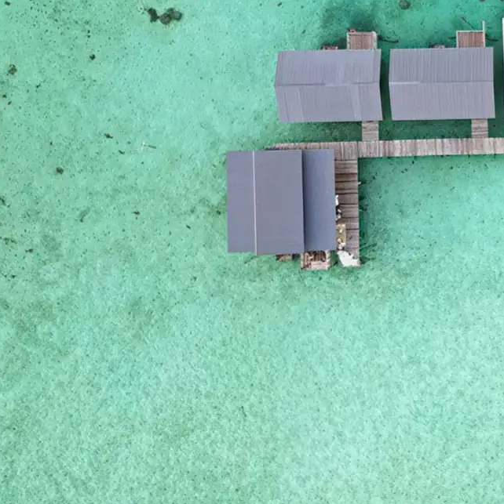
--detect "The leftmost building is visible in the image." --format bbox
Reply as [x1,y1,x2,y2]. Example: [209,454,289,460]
[228,148,337,255]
